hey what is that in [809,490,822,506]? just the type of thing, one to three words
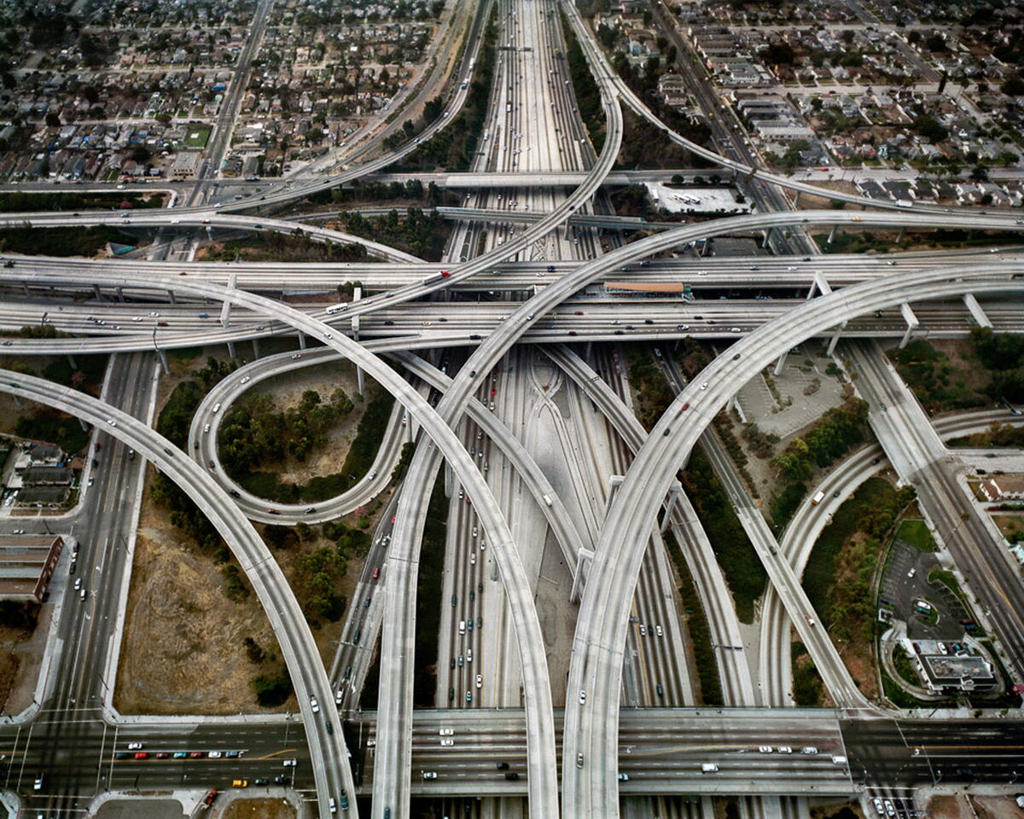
vehicle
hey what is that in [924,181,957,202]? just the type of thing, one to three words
house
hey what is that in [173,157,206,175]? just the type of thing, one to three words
building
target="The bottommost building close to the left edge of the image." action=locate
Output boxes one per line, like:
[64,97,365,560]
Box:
[0,532,61,604]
